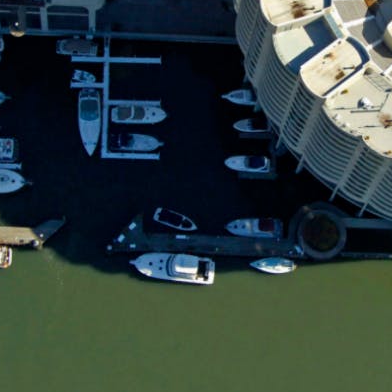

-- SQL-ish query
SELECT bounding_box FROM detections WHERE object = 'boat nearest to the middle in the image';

[152,205,196,230]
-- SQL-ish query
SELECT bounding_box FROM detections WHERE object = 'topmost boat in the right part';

[221,88,255,105]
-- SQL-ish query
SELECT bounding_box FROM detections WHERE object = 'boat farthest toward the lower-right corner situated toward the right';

[250,257,296,273]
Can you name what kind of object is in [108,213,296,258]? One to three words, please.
pier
